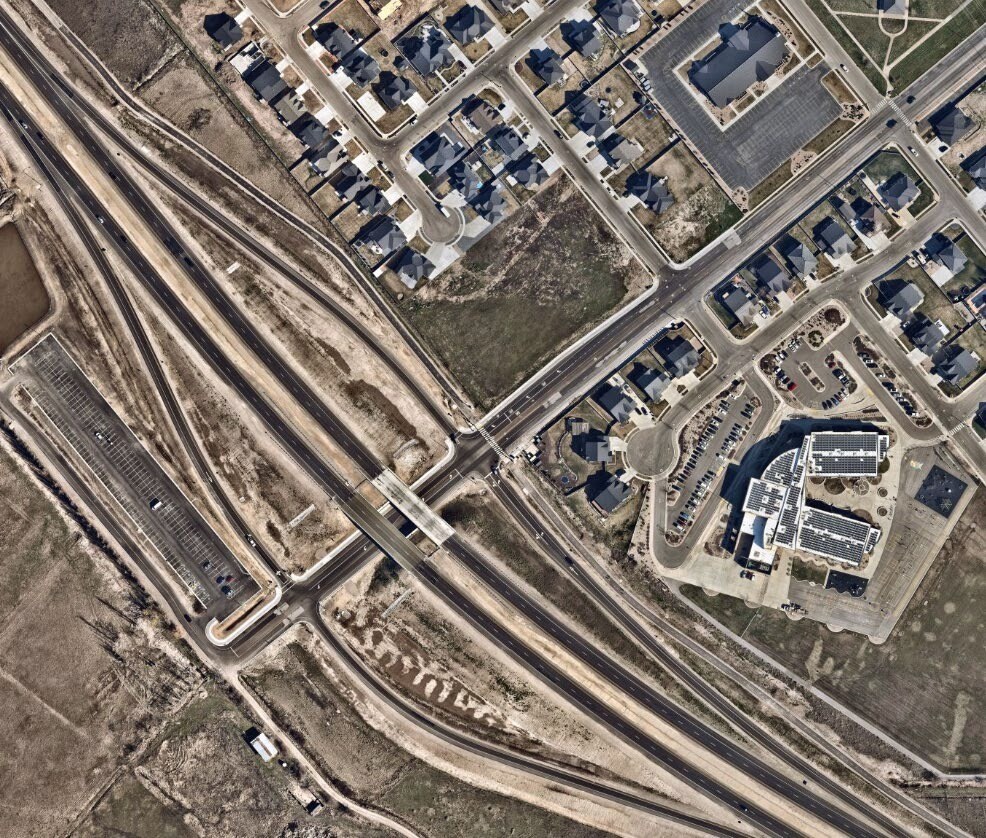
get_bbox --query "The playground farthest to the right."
[915,464,968,518]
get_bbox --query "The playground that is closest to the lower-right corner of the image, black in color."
[825,569,869,597]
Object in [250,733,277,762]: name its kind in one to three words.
barn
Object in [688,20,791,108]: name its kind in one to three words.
building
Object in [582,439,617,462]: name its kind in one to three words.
house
